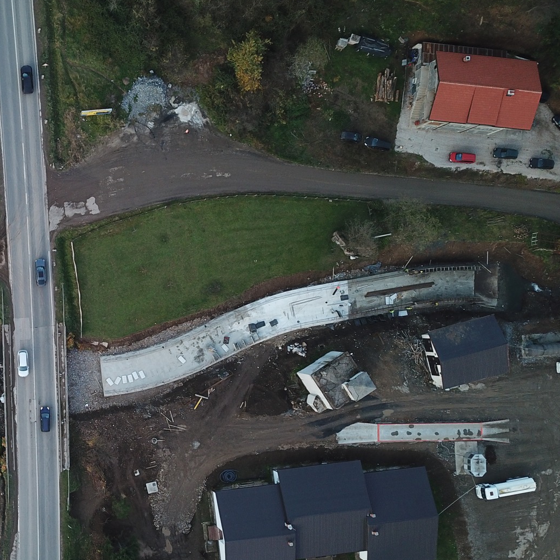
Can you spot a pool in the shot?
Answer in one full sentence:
No, no pool is visible in the view.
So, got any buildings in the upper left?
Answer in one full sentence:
No, I can find no building in the upper left.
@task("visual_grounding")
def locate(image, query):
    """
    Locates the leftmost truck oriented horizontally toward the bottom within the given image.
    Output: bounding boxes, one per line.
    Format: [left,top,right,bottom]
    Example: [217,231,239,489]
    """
[479,478,546,506]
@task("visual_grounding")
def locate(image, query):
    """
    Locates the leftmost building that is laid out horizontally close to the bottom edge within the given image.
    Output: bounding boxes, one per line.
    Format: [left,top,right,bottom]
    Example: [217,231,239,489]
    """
[196,458,437,560]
